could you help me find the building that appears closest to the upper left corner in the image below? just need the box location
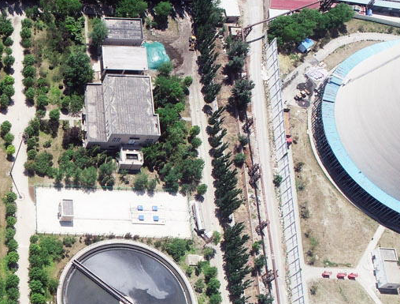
[101,16,143,46]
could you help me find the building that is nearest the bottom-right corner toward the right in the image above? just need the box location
[371,248,400,289]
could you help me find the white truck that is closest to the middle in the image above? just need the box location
[189,201,210,243]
